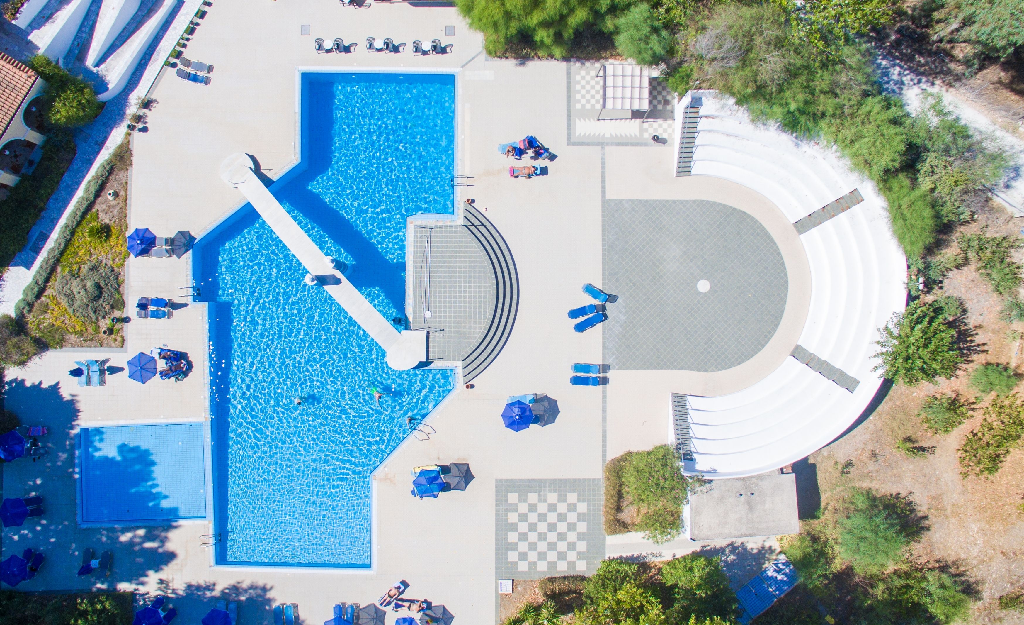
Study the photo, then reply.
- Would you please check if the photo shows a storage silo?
No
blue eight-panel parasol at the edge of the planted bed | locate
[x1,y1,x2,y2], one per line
[127,227,160,258]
